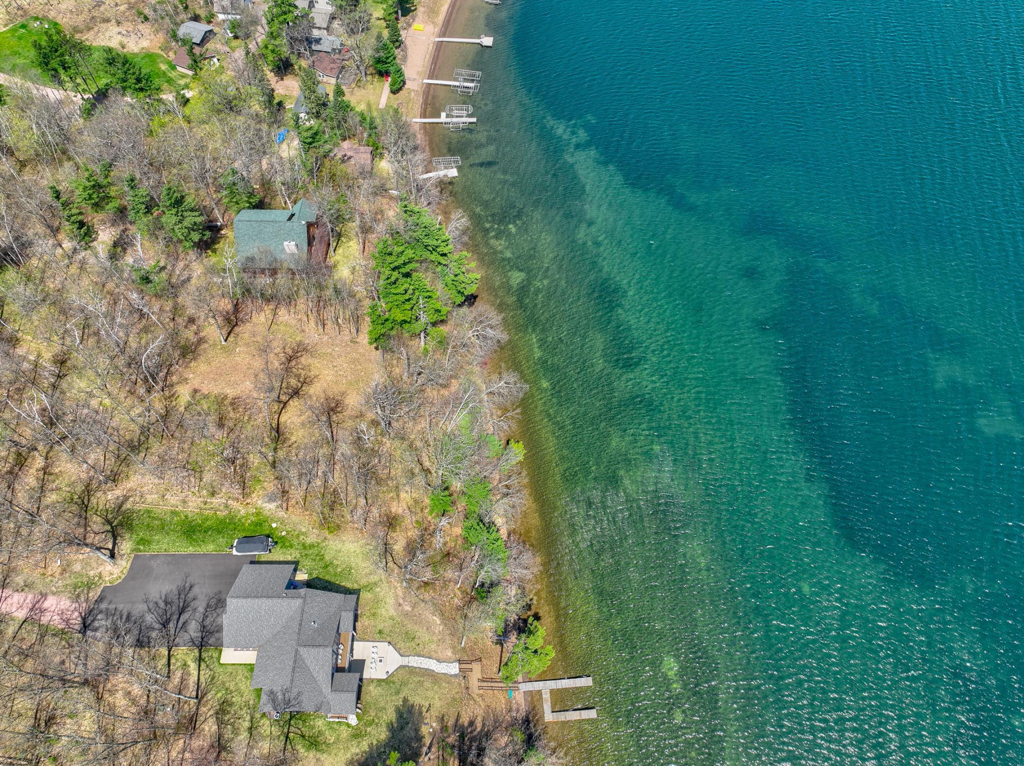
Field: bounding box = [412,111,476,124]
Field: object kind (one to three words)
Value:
pier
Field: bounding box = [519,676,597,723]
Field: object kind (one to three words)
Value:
pier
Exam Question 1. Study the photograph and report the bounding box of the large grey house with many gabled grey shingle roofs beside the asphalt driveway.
[223,564,364,723]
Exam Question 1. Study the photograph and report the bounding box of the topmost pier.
[435,36,493,49]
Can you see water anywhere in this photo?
Yes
